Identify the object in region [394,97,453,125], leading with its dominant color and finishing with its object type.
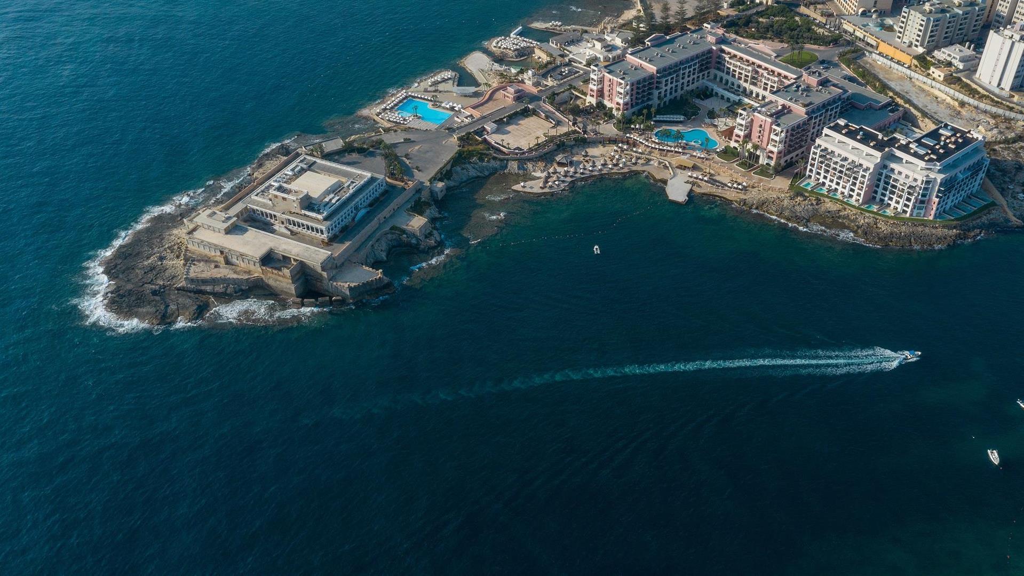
blue swimming pool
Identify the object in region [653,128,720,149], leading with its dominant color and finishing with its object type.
blue swimming pool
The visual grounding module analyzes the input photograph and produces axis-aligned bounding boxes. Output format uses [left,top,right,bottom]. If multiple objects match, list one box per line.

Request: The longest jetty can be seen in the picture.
[530,23,594,35]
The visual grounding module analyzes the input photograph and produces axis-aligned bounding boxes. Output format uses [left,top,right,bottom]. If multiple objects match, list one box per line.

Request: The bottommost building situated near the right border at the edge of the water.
[808,118,992,219]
